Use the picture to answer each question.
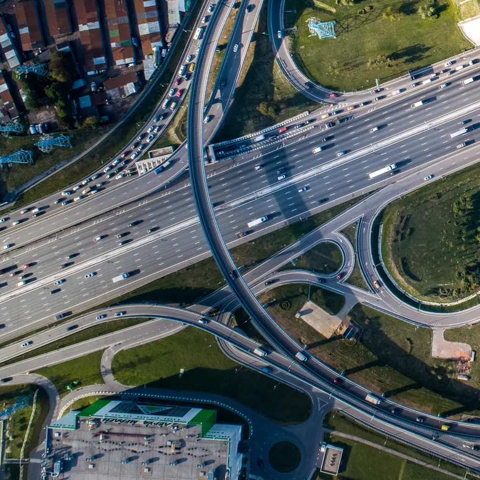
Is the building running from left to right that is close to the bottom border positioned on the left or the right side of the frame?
left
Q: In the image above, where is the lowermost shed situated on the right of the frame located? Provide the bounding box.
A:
[321,443,344,475]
